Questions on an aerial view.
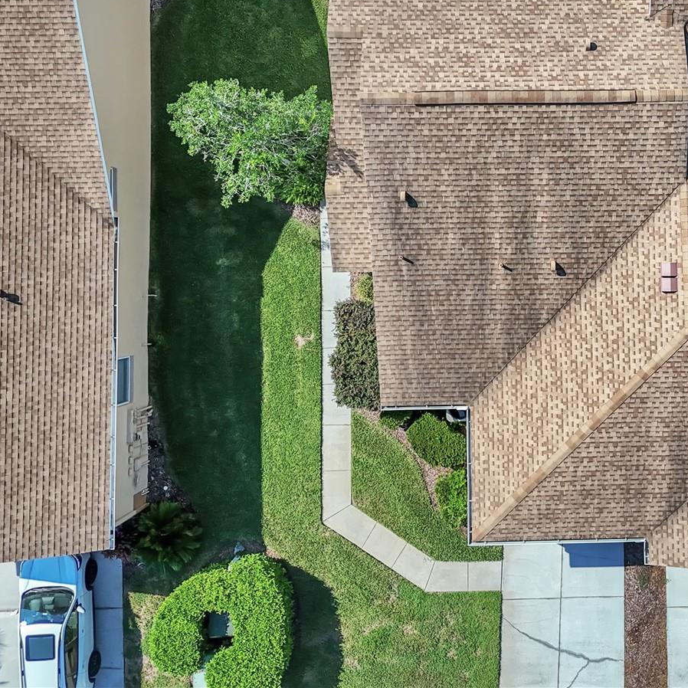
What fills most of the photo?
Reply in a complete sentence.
What you mostly see from above here is buildings.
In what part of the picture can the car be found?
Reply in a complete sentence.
The car is in the bottom left part of the image.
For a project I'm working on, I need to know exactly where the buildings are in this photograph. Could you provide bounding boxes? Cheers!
[0,0,156,562]
[323,0,688,560]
